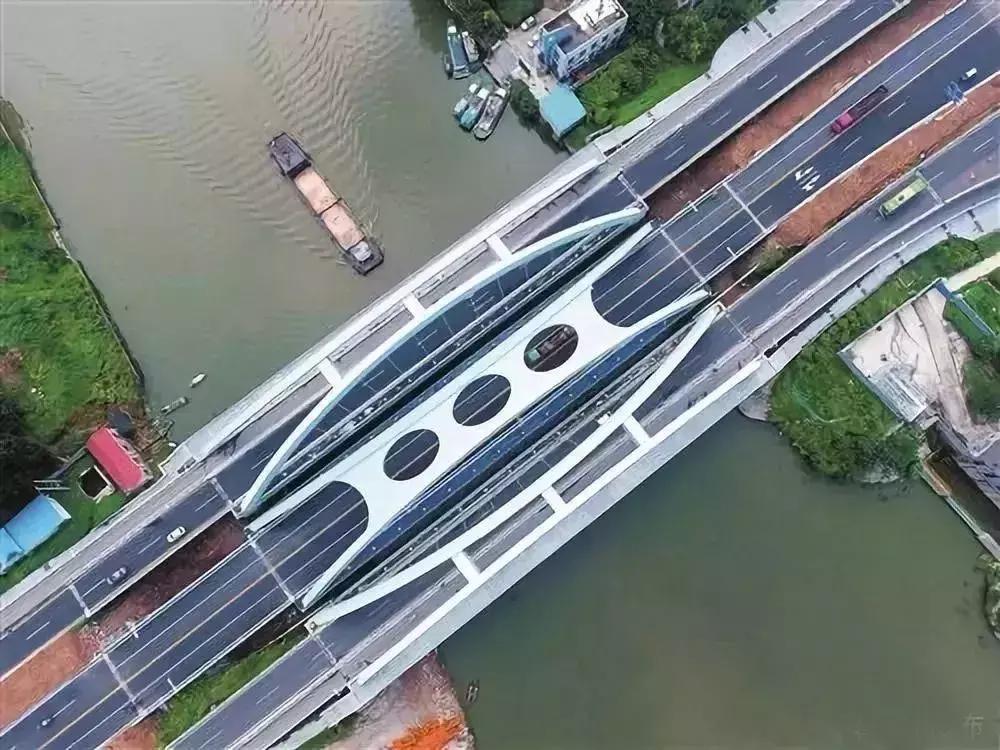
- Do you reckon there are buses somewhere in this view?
Yes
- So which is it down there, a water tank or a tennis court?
water tank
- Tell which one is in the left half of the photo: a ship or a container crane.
ship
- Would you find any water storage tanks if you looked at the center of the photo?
No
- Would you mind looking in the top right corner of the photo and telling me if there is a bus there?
Yes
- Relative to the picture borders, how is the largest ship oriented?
on a diagonal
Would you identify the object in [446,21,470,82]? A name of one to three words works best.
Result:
boat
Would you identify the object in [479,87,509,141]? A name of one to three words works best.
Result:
boat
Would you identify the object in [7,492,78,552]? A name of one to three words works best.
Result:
shed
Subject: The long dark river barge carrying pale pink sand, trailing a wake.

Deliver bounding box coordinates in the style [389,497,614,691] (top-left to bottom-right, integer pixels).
[266,127,378,275]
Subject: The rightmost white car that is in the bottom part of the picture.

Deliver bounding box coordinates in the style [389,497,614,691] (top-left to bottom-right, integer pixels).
[164,523,188,544]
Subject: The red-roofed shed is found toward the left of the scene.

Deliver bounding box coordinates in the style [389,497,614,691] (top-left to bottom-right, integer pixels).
[87,426,157,492]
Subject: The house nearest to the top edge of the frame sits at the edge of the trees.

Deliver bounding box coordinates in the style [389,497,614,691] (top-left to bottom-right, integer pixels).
[542,0,628,78]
